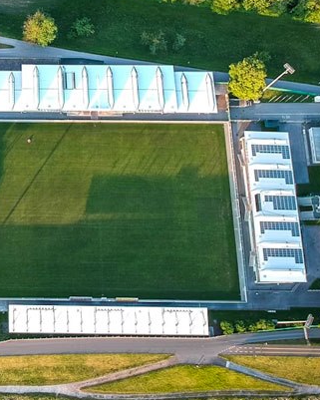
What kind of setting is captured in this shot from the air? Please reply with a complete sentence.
This looks like a sports ground.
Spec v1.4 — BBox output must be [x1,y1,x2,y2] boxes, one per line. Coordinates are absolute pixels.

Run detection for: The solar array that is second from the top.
[255,170,298,184]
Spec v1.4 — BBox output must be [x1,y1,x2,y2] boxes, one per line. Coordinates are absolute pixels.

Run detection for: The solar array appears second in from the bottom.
[261,222,305,236]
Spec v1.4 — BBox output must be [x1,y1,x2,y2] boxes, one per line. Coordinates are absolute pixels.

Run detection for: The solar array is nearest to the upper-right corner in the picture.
[253,146,296,159]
